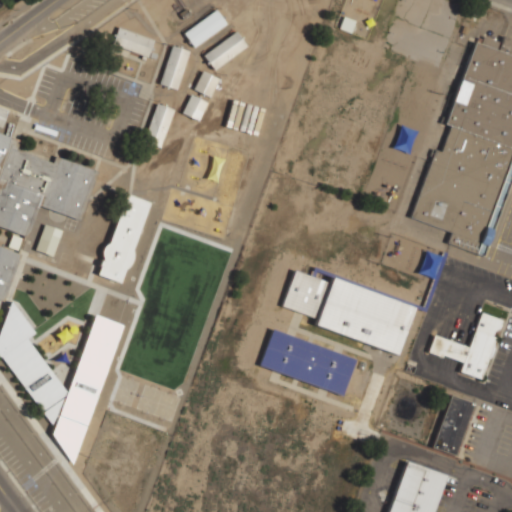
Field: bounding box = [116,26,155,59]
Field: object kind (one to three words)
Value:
building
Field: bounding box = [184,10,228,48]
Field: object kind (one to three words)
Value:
shed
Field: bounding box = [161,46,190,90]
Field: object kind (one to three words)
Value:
building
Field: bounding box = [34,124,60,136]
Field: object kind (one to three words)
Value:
vehicle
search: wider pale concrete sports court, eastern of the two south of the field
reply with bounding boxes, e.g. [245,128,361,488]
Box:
[137,385,180,422]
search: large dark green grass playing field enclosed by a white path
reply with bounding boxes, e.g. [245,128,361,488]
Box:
[121,228,231,389]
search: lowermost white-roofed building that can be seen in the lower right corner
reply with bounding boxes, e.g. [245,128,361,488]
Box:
[390,462,451,512]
